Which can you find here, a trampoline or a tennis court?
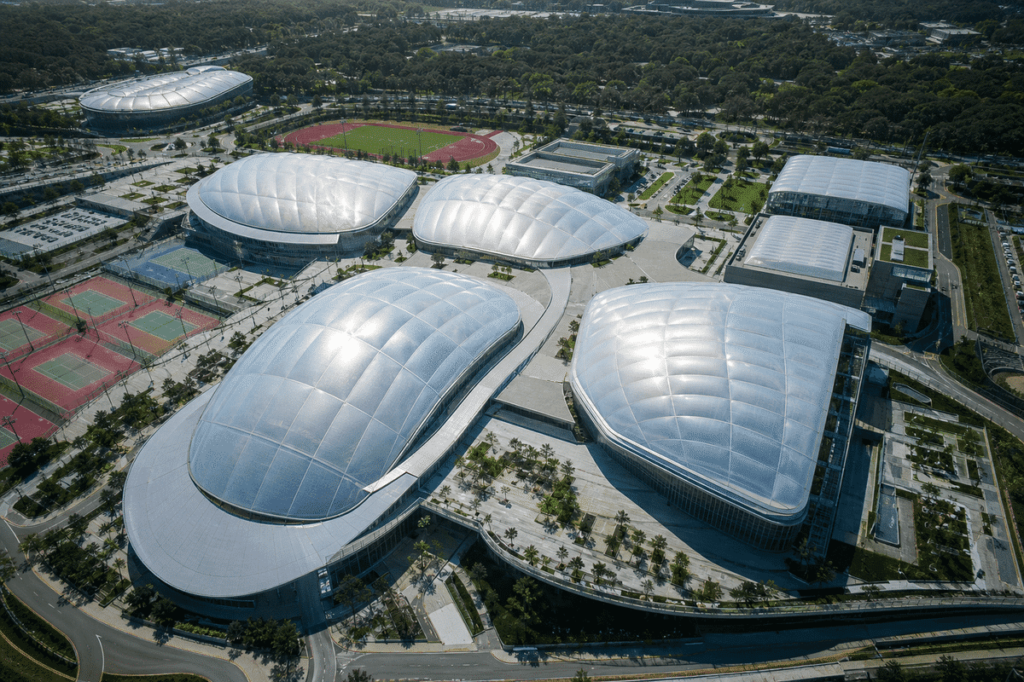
tennis court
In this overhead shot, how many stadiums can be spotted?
2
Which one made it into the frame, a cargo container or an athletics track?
athletics track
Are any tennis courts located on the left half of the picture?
Yes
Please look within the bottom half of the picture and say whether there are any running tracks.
No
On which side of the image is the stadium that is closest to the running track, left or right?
left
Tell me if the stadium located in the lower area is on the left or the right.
left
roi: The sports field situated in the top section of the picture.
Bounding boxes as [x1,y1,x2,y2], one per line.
[309,126,460,156]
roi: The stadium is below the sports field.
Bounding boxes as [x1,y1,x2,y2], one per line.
[122,268,521,620]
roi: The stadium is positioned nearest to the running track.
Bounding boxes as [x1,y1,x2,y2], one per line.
[76,65,256,141]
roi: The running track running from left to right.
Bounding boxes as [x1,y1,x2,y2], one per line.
[275,121,502,163]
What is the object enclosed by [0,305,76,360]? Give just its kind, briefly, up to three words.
tennis court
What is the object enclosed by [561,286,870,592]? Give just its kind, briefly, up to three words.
building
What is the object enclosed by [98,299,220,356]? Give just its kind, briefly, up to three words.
tennis court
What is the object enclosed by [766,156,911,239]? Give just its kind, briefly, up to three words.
building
